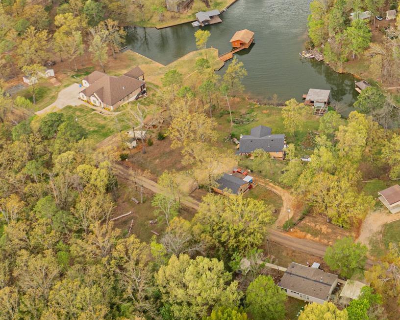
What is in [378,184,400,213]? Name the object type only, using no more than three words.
building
